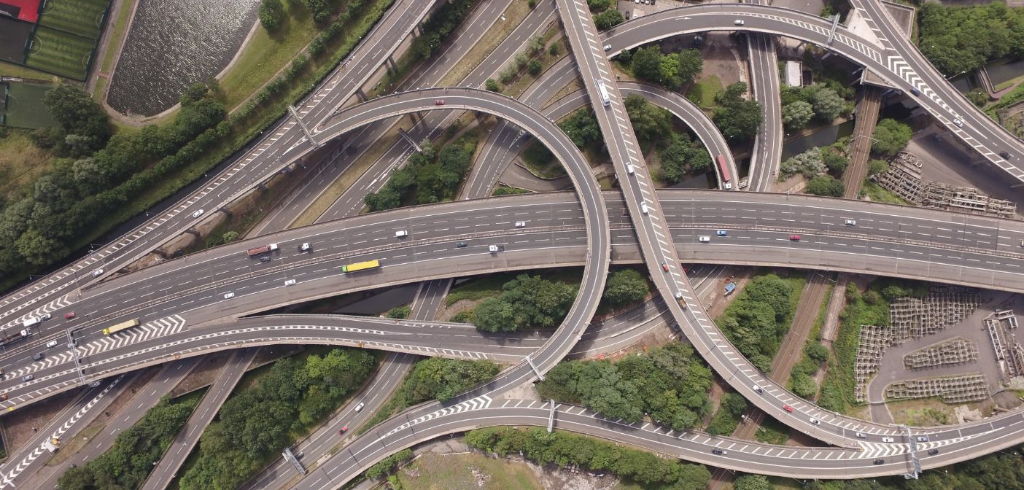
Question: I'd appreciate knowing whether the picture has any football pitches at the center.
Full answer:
No, no football pitch is visible at the center.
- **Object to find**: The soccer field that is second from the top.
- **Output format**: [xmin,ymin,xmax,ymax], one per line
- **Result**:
[21,24,96,80]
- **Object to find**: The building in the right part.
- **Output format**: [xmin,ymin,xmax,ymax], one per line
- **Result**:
[784,61,803,88]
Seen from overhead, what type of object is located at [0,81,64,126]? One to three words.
soccer field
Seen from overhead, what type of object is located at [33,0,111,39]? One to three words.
soccer field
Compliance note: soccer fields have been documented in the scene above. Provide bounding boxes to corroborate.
[33,0,111,39]
[0,81,64,126]
[21,24,96,80]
